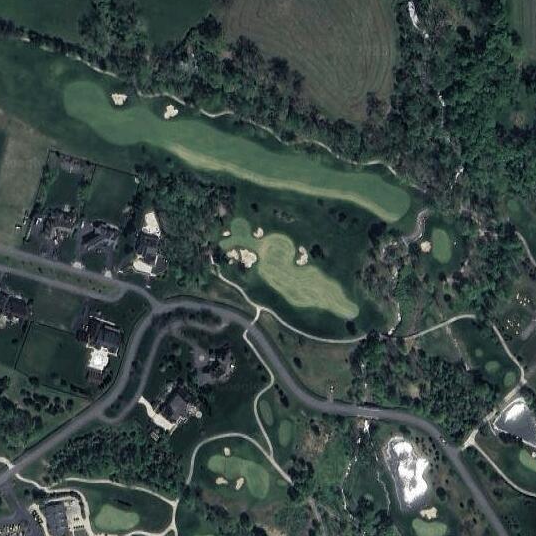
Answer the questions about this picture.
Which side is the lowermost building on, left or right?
left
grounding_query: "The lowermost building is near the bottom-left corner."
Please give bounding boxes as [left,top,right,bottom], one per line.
[42,502,67,536]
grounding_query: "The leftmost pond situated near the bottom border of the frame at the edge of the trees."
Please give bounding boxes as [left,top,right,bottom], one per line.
[385,434,429,511]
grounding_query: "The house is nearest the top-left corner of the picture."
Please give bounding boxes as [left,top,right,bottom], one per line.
[40,208,76,237]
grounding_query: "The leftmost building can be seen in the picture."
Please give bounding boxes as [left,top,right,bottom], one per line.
[0,292,29,318]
